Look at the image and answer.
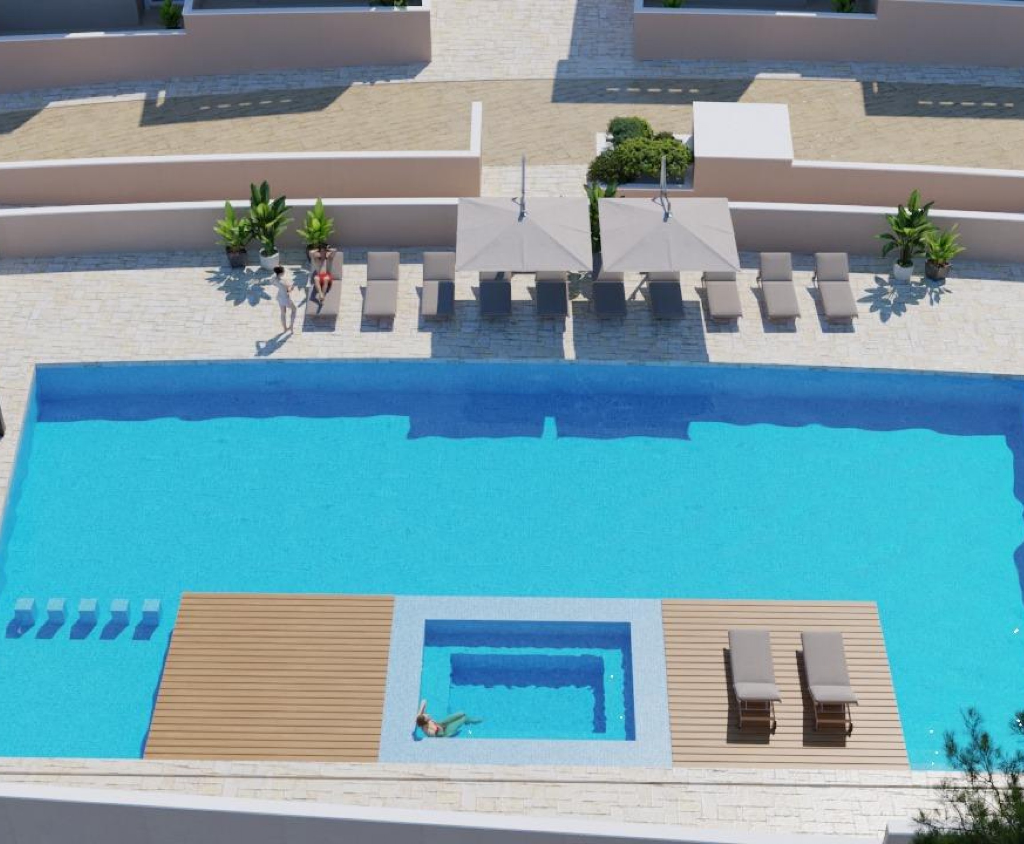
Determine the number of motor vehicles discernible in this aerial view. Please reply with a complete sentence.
The count of motor vehicles is 0.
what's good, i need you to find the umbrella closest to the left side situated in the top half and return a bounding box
[456,155,593,272]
